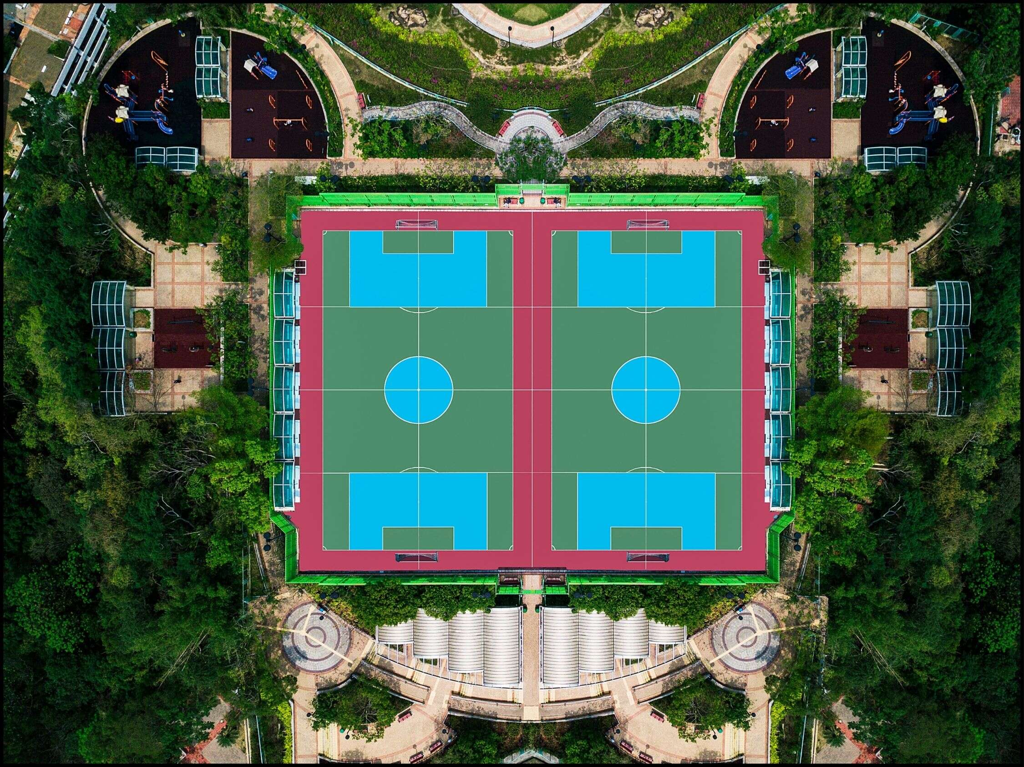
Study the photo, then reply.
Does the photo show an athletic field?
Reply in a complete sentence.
Yes, an athletic field appears in the view.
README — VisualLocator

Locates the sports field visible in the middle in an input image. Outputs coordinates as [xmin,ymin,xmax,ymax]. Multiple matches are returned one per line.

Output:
[323,231,742,550]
